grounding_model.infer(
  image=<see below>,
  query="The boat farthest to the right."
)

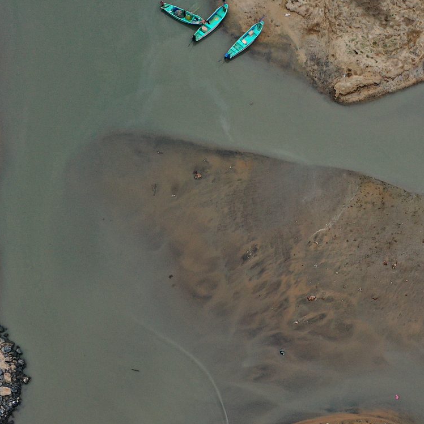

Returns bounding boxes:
[224,16,264,60]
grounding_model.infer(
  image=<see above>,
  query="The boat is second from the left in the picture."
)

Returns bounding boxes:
[190,1,227,45]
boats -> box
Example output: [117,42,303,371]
[224,16,264,60]
[153,0,204,24]
[190,1,227,45]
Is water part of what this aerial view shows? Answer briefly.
Yes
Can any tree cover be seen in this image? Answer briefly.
No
